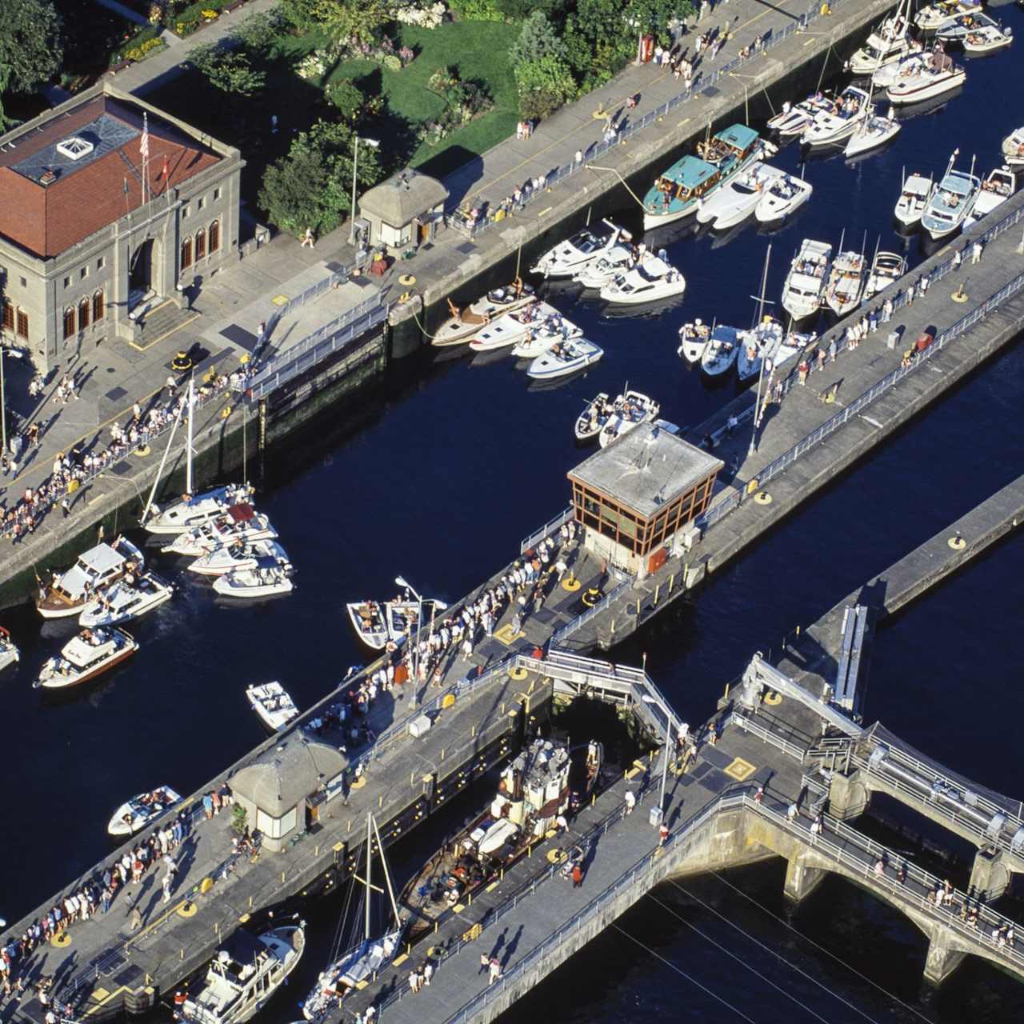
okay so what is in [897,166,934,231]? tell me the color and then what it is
white boat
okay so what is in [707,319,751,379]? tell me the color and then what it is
blue boat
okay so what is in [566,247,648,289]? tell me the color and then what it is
white boat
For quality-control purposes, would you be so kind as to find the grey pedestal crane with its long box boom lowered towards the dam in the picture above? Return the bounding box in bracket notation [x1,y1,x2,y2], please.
[738,650,868,750]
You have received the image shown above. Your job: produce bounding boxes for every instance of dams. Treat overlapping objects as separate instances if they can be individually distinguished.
[825,739,1024,916]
